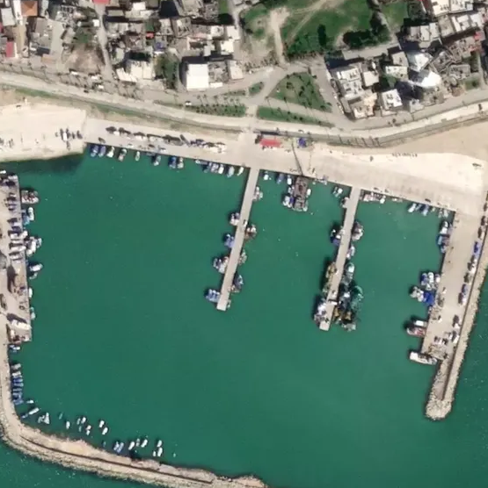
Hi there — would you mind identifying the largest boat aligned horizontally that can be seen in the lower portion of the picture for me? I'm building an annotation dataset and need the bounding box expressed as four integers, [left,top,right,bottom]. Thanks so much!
[410,352,439,365]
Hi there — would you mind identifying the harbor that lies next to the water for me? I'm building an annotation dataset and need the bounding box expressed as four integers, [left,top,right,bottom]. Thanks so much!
[0,101,488,360]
